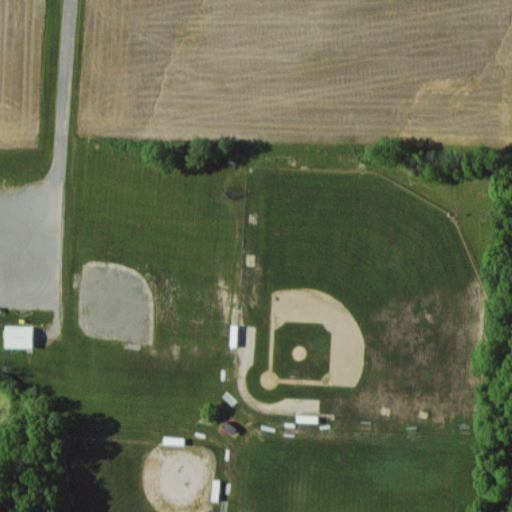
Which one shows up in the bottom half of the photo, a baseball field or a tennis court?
baseball field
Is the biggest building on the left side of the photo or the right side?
left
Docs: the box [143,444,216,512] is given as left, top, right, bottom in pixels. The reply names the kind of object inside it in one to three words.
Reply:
baseball field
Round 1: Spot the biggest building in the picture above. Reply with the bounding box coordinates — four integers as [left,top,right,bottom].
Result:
[4,326,33,353]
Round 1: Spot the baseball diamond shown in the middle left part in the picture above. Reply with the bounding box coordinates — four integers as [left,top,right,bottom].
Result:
[79,262,154,350]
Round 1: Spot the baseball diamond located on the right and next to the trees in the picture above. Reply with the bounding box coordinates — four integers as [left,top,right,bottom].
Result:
[238,168,486,421]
